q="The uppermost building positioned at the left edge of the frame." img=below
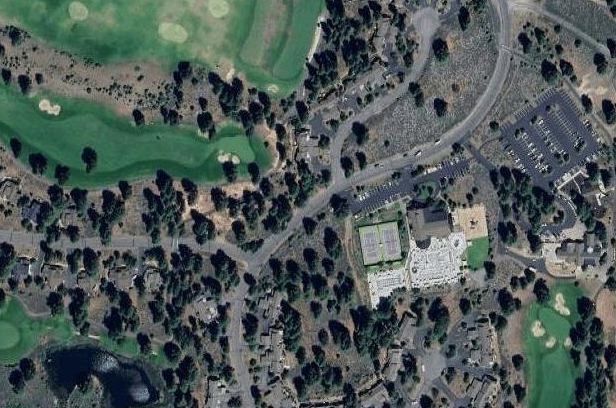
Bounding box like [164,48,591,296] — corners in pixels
[0,177,23,202]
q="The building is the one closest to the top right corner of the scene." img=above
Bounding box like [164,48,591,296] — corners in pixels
[575,178,603,201]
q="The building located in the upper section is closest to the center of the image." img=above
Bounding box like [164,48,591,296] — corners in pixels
[298,125,322,152]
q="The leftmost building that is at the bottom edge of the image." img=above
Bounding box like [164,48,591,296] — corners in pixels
[208,376,236,407]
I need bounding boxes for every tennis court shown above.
[378,222,402,263]
[358,224,382,265]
